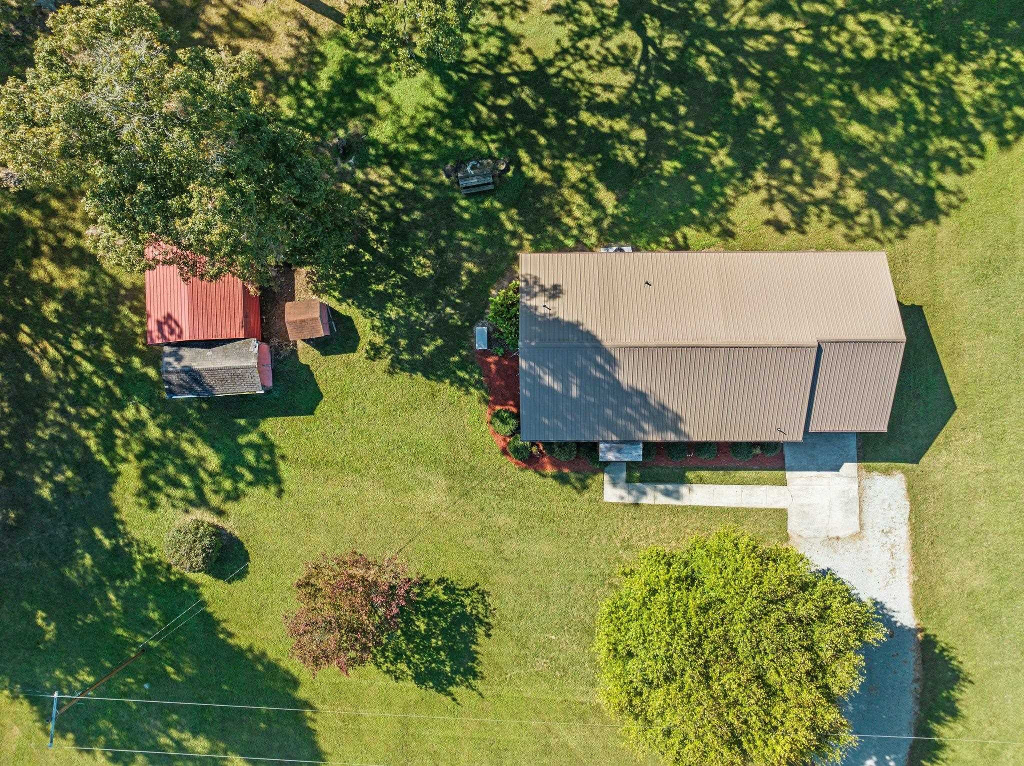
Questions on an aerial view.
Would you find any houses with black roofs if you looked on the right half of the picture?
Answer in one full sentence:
No, no house with a black roof can be made out on the right half of the picture.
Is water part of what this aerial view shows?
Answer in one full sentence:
No, there is no water in the image.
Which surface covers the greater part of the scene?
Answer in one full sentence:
Most of the picture is covered by grass.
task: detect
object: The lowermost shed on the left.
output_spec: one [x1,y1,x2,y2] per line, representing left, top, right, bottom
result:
[158,340,273,398]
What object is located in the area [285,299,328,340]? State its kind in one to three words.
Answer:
shed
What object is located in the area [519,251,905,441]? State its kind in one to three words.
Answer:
house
